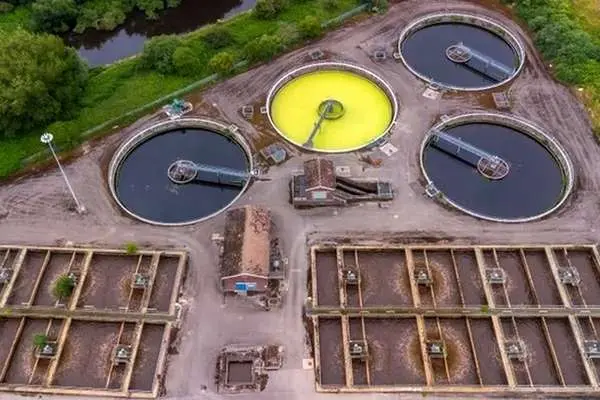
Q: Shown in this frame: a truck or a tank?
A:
tank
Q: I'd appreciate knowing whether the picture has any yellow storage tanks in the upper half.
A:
Yes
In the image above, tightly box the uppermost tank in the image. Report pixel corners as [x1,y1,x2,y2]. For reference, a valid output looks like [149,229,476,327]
[398,14,524,93]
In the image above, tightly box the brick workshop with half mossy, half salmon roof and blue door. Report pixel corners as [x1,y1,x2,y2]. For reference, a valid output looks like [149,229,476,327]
[219,201,286,298]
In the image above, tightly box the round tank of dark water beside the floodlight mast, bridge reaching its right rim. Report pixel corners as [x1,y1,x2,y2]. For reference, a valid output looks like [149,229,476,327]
[108,119,254,227]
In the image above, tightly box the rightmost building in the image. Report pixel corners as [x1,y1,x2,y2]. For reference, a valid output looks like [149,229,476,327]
[302,155,337,204]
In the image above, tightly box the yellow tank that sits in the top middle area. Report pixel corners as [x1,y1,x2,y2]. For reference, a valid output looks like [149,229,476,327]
[266,63,397,153]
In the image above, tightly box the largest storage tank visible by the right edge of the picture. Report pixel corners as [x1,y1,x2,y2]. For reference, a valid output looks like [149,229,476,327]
[420,113,572,224]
